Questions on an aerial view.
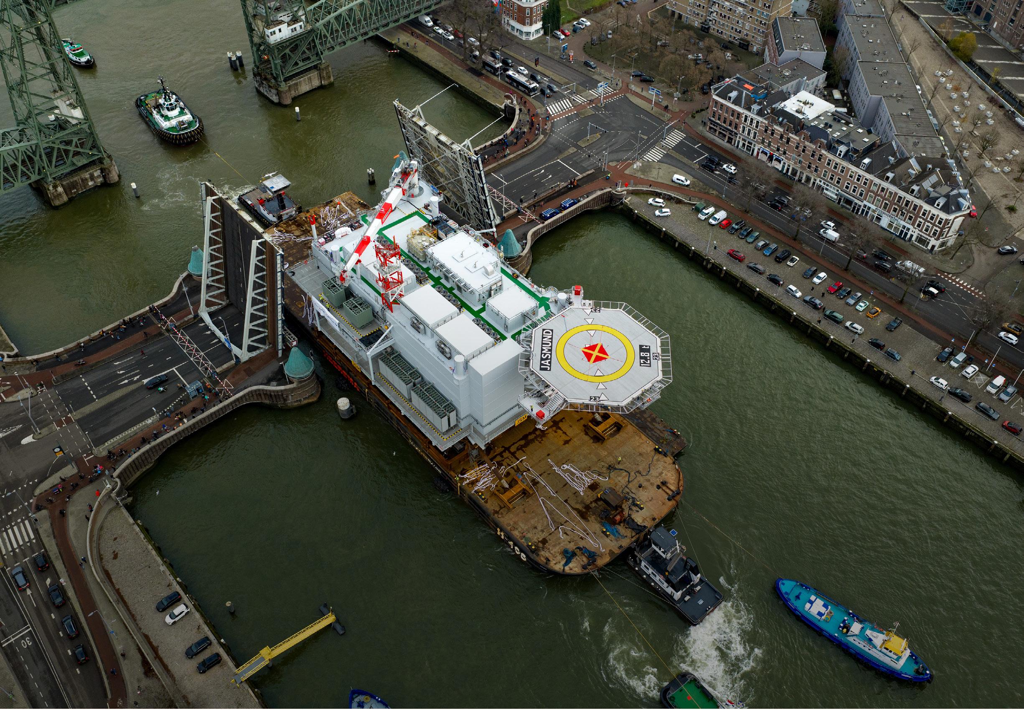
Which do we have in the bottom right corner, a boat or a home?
boat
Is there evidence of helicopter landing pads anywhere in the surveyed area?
Yes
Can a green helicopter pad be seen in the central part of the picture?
No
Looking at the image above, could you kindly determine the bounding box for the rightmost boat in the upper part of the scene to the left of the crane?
[236,170,305,228]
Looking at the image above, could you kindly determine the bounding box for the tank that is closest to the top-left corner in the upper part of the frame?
[408,226,438,260]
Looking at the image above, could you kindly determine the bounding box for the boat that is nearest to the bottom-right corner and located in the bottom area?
[775,575,939,686]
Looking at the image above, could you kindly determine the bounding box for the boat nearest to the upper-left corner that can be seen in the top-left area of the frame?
[58,30,96,68]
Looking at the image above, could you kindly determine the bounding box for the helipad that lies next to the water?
[496,282,672,427]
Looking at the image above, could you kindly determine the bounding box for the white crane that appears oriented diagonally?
[334,151,423,280]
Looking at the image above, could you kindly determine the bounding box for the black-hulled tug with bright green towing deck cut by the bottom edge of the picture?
[657,668,738,710]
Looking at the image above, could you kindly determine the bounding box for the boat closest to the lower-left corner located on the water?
[349,688,391,710]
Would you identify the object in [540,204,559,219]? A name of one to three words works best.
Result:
car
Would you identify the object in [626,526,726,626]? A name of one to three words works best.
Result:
boat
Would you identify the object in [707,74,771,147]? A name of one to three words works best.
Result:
house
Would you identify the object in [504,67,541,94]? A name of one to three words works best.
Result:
bus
